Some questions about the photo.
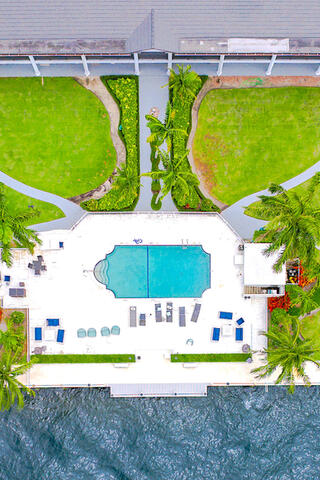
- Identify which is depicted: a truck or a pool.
pool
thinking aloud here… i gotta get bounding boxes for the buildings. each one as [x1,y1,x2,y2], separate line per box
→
[243,242,286,296]
[0,0,320,76]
